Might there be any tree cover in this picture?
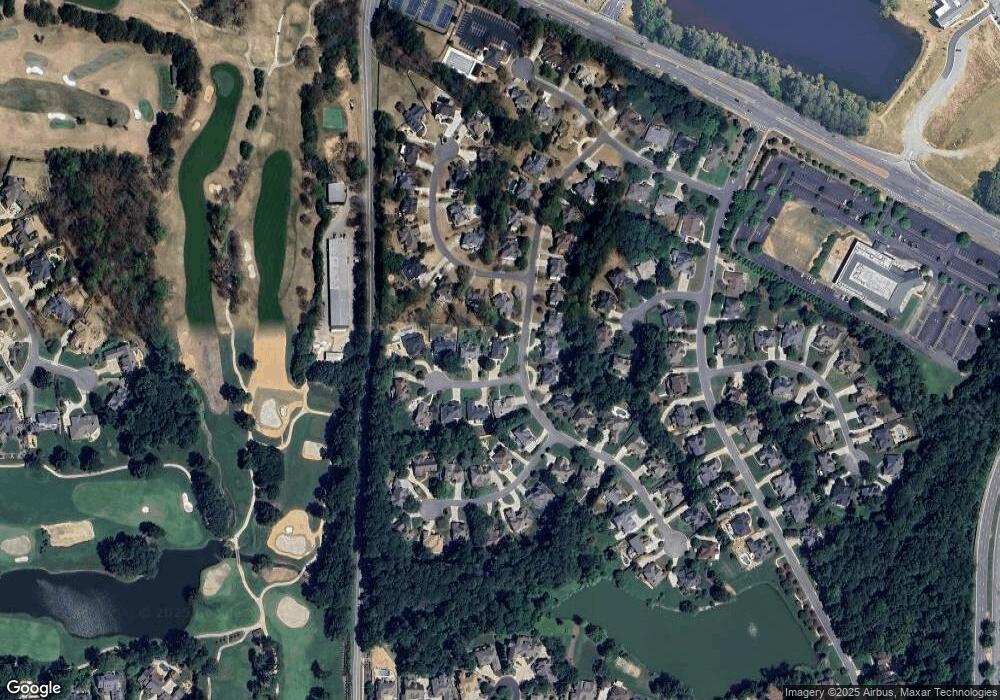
Yes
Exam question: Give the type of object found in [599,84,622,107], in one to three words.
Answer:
house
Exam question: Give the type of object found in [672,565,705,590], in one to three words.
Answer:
house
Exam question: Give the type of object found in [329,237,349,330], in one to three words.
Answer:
building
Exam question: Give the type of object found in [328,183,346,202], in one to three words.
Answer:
shed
